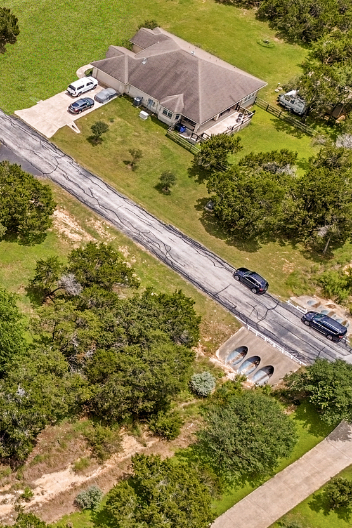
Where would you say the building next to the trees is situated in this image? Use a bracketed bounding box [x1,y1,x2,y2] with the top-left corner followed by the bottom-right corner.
[89,27,270,140]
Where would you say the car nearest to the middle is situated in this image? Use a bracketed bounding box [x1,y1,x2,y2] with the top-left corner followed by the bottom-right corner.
[233,265,272,295]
